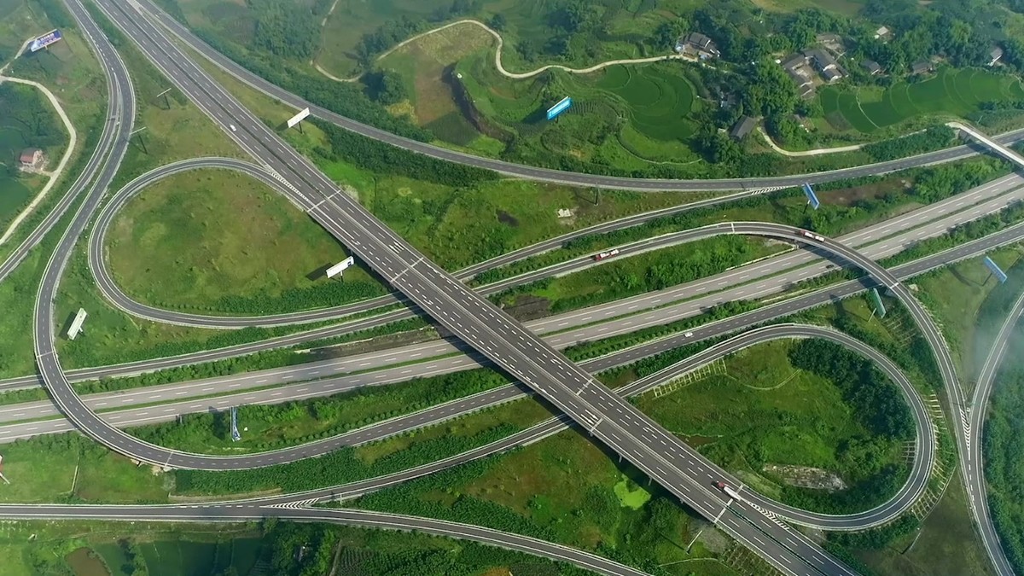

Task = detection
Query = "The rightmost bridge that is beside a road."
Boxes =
[944,121,1024,173]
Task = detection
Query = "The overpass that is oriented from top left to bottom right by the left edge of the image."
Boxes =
[35,349,174,468]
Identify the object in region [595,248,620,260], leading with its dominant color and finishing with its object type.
white vehicle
